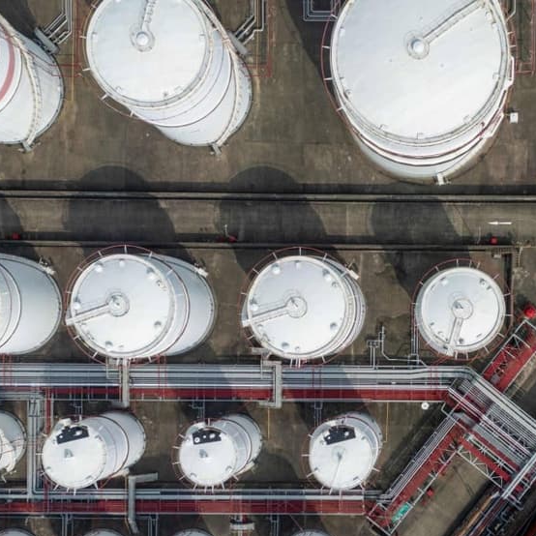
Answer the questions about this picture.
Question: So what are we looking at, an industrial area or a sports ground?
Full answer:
The area seen from above is an industrial area.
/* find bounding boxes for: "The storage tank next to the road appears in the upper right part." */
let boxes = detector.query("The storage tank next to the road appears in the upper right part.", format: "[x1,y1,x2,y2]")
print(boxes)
[323,0,518,187]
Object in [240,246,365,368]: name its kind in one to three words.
storage tank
